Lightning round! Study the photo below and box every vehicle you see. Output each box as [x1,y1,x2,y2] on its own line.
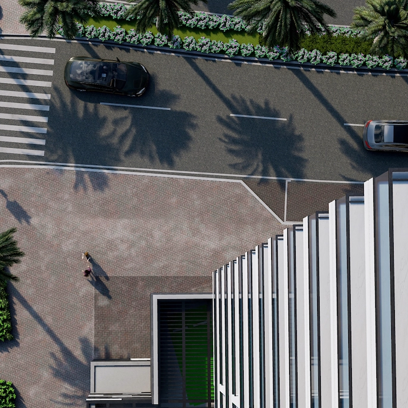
[64,58,149,99]
[362,120,408,152]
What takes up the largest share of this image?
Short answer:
paved ground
